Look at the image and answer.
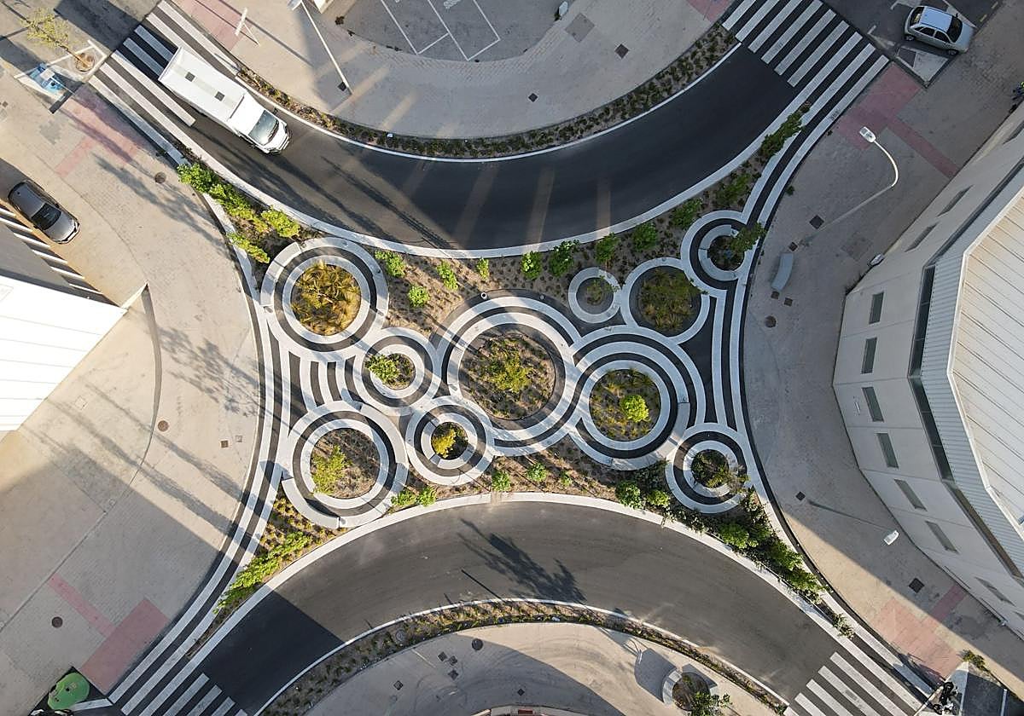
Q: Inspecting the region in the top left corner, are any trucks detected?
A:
Yes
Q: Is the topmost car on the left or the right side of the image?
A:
right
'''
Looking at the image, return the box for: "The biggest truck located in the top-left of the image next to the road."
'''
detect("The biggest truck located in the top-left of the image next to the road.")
[160,52,292,162]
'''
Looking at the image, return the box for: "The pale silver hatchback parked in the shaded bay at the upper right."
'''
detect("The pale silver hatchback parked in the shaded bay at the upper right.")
[901,0,978,54]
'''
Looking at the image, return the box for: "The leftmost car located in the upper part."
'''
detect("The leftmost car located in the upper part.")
[6,177,81,242]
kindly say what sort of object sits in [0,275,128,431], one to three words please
building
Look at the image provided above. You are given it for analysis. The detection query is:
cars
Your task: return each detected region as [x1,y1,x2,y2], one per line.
[901,0,978,54]
[6,177,81,242]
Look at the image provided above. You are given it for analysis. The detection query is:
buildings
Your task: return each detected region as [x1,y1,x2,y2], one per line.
[833,106,1024,638]
[0,275,128,431]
